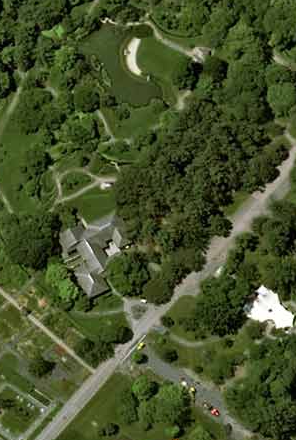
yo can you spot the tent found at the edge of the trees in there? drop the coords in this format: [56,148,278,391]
[247,285,294,328]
